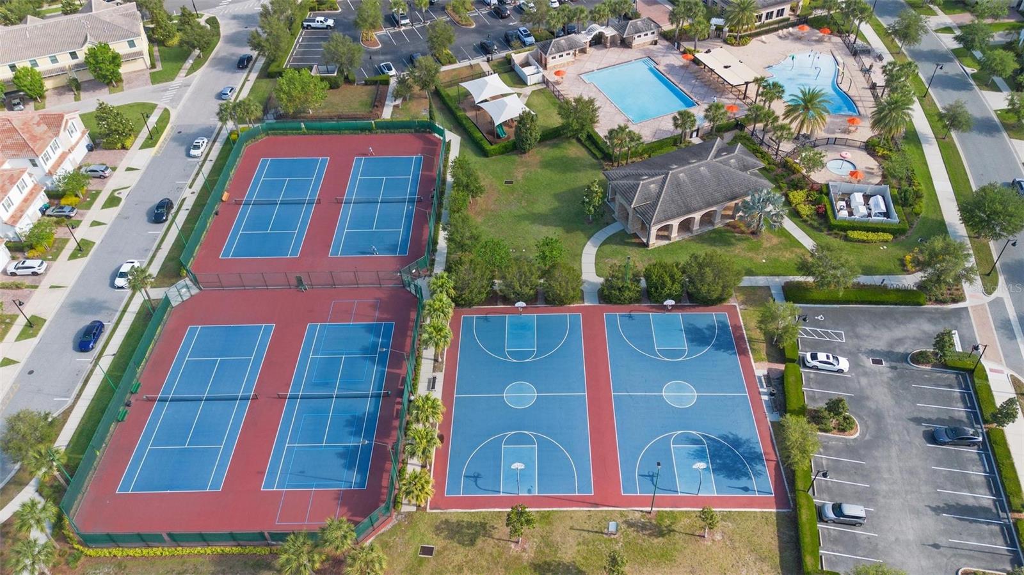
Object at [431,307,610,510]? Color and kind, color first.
blue basketball court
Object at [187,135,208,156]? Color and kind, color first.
white car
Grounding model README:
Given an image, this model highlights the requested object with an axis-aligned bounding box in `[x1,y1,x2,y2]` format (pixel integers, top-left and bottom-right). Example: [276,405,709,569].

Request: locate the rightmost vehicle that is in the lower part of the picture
[932,423,987,447]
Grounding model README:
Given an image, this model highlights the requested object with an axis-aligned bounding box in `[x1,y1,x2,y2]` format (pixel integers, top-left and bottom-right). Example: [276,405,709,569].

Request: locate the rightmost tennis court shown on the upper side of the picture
[304,136,441,287]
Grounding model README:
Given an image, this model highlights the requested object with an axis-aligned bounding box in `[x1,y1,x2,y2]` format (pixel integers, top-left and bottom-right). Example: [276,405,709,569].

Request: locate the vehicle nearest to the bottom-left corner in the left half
[75,318,104,352]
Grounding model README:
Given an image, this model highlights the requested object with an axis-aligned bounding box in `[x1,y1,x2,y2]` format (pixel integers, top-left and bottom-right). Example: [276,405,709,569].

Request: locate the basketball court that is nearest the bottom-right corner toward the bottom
[592,304,791,511]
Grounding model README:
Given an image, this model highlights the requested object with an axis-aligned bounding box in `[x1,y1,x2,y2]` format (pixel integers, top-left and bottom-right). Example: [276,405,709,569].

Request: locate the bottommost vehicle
[821,499,872,526]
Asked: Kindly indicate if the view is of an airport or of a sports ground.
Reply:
sports ground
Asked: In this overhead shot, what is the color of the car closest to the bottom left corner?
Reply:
blue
